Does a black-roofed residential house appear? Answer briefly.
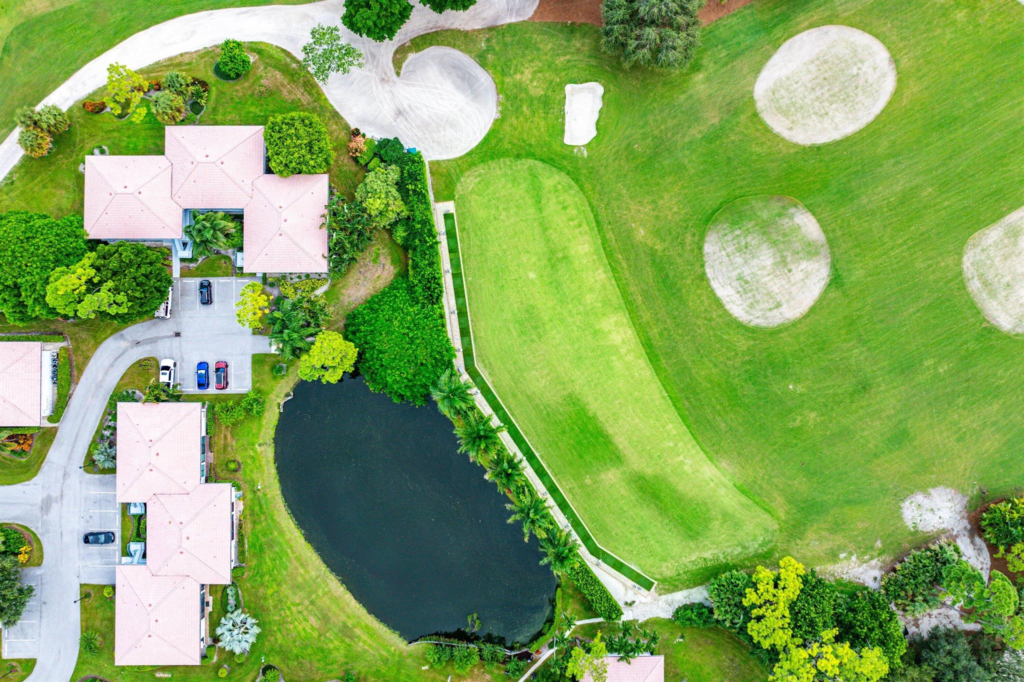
No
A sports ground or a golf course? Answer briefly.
golf course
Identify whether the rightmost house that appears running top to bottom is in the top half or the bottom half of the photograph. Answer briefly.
bottom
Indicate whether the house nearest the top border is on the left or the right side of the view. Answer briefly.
left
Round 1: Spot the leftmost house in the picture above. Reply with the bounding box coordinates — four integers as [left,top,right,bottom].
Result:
[0,341,53,427]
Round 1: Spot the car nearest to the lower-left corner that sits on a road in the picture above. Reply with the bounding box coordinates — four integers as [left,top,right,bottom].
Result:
[85,531,116,545]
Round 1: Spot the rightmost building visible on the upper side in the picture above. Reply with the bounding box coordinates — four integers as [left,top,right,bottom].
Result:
[83,125,332,273]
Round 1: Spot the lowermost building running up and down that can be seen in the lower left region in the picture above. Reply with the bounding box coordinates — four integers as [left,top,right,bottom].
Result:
[114,402,235,666]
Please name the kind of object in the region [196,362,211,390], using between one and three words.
car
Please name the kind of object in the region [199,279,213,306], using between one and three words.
car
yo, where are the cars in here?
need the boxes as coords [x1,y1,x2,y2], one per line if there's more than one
[215,361,229,390]
[196,362,211,390]
[160,360,175,389]
[199,279,213,306]
[85,531,116,545]
[156,287,174,319]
